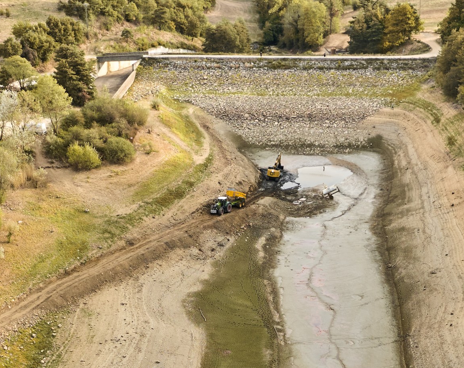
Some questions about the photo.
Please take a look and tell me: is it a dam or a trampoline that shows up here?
dam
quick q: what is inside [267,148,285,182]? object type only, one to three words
work vehicle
